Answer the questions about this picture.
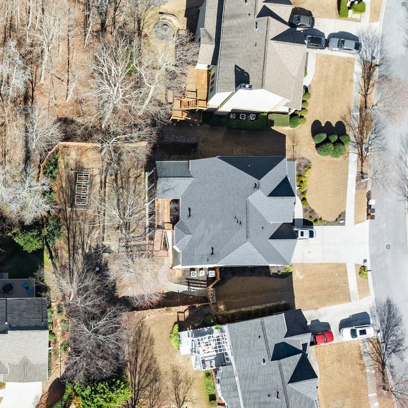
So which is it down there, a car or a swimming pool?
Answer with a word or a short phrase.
car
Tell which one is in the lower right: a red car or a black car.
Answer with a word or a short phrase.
red car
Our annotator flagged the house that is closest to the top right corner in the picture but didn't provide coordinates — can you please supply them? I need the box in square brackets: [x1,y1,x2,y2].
[171,0,307,123]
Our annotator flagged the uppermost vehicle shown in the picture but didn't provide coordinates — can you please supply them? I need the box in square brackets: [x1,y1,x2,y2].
[288,11,315,29]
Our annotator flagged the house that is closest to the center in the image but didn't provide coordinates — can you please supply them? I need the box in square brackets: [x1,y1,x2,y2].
[150,156,298,270]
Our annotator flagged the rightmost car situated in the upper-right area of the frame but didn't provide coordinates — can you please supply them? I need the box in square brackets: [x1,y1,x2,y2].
[328,36,361,53]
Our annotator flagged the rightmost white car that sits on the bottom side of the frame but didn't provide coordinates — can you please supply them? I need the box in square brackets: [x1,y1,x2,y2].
[339,325,374,342]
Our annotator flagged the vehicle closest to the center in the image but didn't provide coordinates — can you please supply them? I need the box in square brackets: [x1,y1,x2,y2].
[295,225,317,240]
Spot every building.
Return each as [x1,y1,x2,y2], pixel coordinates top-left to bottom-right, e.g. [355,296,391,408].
[150,156,298,270]
[171,0,307,123]
[179,309,319,408]
[0,273,48,382]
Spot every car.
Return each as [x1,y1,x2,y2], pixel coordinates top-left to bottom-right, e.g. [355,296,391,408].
[288,11,315,29]
[295,225,317,240]
[308,330,334,347]
[339,325,374,342]
[328,36,361,53]
[305,32,329,50]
